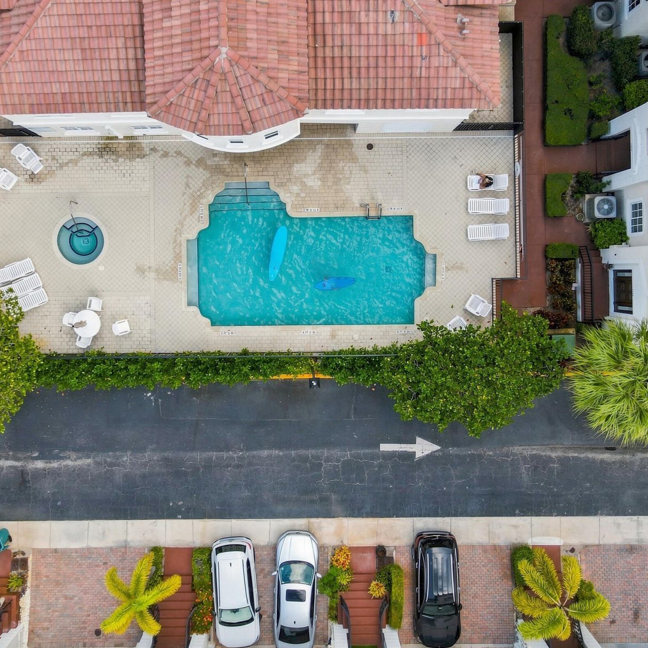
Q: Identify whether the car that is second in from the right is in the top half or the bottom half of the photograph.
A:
bottom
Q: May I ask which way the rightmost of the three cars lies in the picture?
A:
up and down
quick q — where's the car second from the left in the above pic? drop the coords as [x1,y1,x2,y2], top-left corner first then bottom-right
[270,531,323,648]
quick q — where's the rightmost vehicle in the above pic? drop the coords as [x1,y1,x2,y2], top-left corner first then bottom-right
[410,531,465,644]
